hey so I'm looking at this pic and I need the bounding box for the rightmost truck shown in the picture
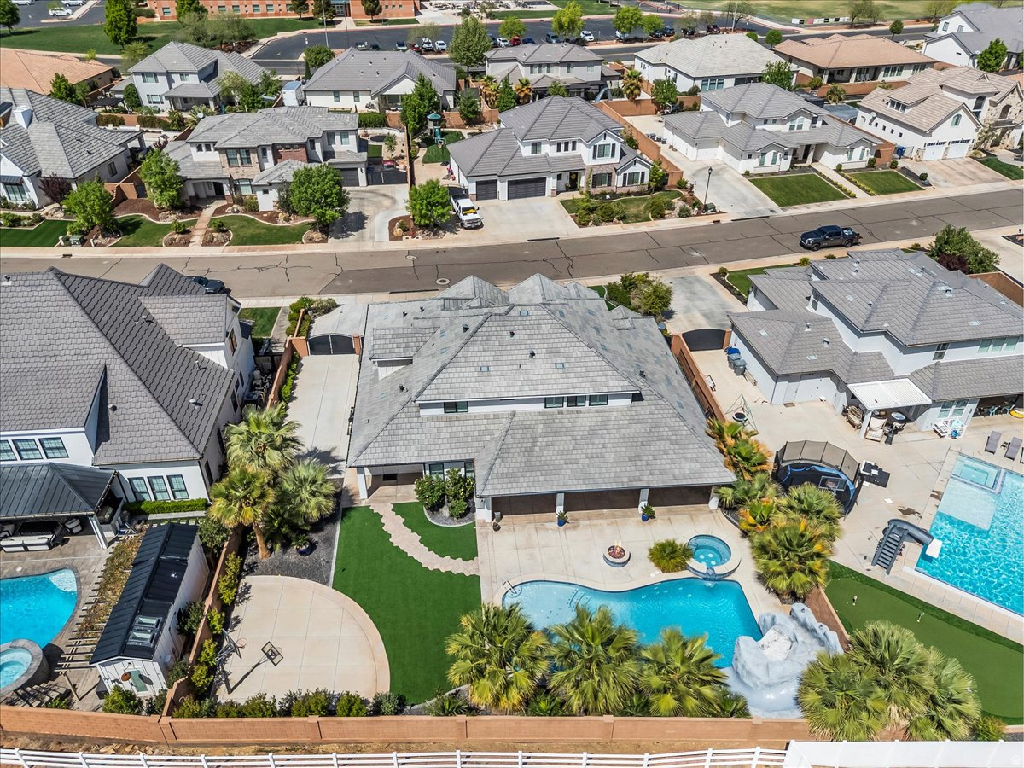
[797,221,863,250]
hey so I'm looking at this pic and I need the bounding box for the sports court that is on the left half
[204,580,376,702]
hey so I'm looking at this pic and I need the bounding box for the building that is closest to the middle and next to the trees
[344,270,740,526]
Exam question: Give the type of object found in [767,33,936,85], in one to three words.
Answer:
house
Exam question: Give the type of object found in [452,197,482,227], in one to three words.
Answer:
truck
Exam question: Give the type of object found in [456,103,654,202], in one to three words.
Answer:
house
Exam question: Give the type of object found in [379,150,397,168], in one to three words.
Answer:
car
